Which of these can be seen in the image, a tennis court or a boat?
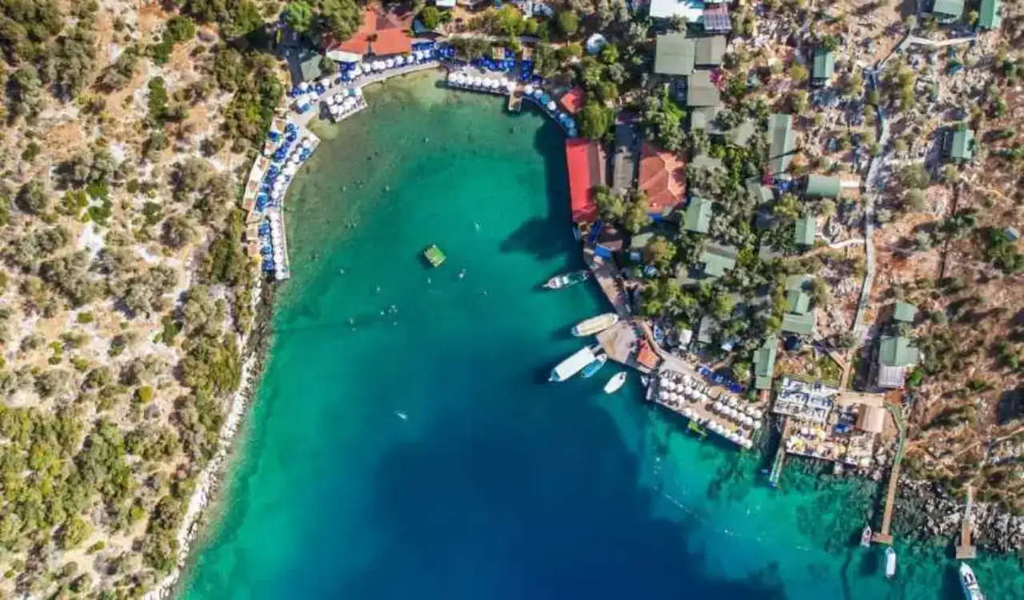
boat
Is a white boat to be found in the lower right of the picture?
Yes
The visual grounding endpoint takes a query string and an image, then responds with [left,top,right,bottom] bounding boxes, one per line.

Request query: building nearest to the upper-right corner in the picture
[968,0,1001,34]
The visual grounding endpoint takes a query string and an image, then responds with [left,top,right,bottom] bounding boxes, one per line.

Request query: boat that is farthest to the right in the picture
[962,564,989,600]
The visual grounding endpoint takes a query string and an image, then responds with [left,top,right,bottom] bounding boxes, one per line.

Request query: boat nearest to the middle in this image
[544,271,590,286]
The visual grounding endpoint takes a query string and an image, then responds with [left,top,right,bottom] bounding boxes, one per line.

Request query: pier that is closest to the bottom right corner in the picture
[953,521,976,558]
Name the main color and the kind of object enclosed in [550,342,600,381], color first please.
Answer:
white boat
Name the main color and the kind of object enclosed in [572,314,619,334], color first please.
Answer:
white boat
